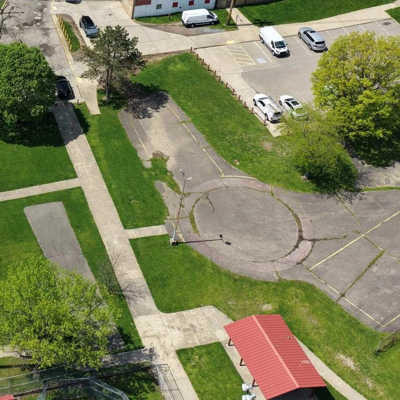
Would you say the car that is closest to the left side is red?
No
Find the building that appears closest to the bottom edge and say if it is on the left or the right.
right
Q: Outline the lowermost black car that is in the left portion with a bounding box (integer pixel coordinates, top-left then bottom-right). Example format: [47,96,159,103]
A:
[53,74,74,102]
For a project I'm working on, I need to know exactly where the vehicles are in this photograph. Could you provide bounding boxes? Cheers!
[246,92,289,126]
[256,21,292,59]
[53,74,74,102]
[294,26,330,53]
[275,94,311,122]
[176,6,223,30]
[78,14,99,37]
